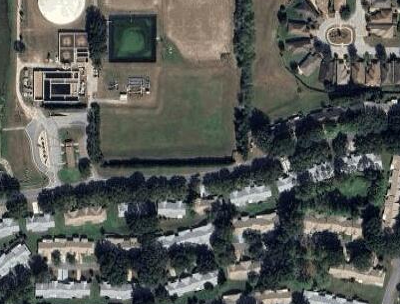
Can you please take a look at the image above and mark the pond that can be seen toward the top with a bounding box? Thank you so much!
[106,12,159,65]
